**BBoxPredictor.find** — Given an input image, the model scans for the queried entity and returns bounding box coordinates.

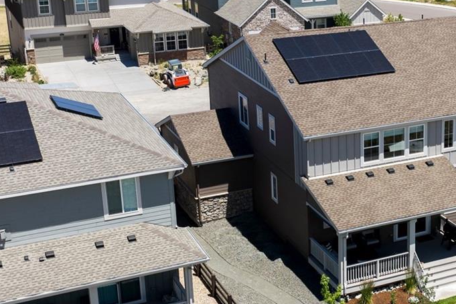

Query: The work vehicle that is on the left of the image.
[153,57,192,86]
